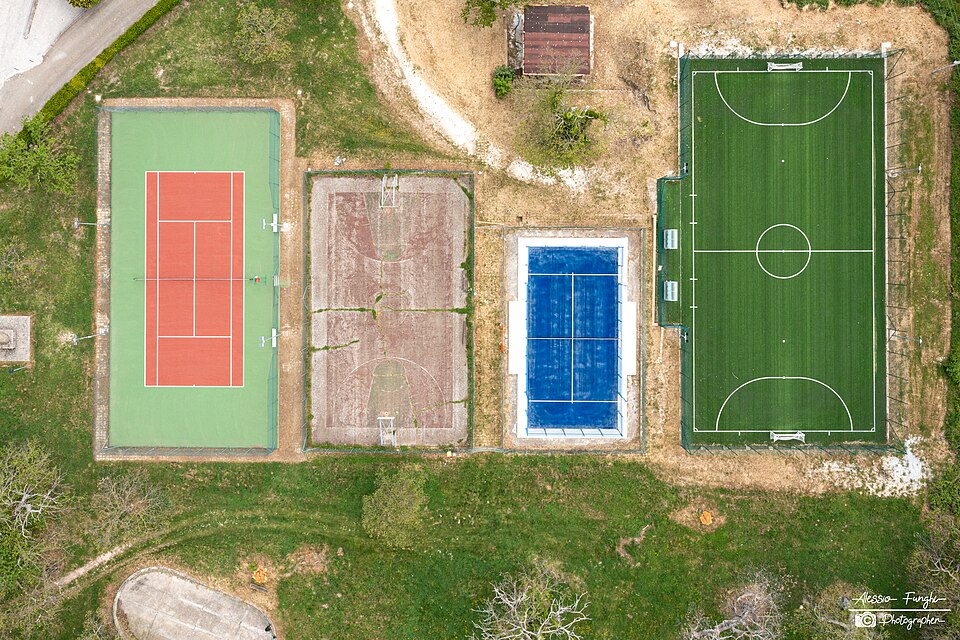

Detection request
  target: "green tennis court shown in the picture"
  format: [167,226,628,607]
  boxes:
[109,111,279,448]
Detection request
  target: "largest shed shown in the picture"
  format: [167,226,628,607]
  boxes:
[525,6,590,78]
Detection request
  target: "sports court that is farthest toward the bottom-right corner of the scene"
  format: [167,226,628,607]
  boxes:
[506,231,639,448]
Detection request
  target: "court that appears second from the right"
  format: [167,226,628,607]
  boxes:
[308,176,472,444]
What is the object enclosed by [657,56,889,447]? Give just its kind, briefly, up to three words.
soccer field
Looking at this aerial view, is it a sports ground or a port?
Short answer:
sports ground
